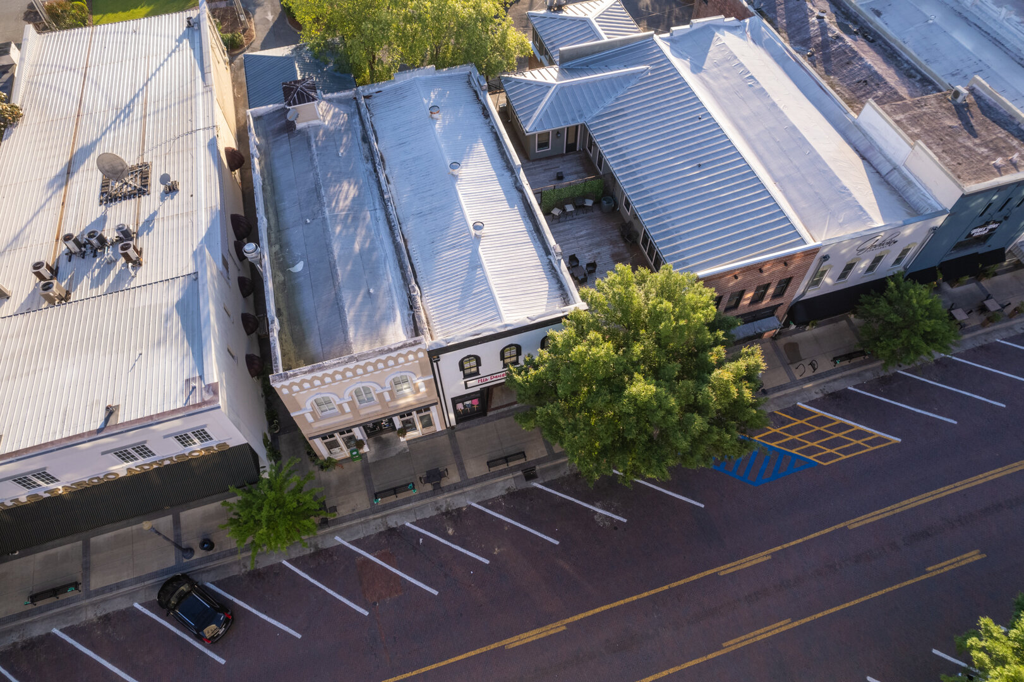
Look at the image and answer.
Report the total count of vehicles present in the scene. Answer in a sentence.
There is 1 vehicle in the image.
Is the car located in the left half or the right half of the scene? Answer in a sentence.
The car sits on the left side.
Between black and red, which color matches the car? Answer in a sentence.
The car looks black in the image.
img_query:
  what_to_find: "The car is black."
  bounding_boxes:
[155,570,237,649]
